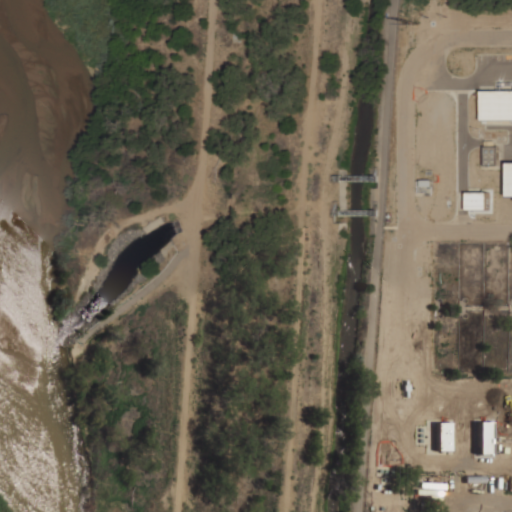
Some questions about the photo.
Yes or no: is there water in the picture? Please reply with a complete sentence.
Yes, water shows up in the scene.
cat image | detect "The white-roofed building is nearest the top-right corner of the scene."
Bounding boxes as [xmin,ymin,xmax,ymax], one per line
[478,91,512,120]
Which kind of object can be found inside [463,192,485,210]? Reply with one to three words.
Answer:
building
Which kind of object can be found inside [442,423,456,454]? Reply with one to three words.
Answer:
building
